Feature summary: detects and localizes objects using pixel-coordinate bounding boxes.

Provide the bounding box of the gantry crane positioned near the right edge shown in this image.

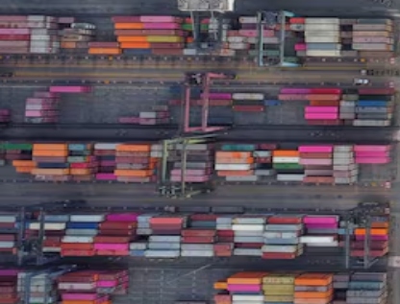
[344,197,390,269]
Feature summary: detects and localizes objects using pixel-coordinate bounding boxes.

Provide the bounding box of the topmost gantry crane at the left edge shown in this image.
[17,196,82,267]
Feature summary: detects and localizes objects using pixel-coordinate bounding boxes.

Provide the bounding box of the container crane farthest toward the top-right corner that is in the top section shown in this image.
[259,9,309,68]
